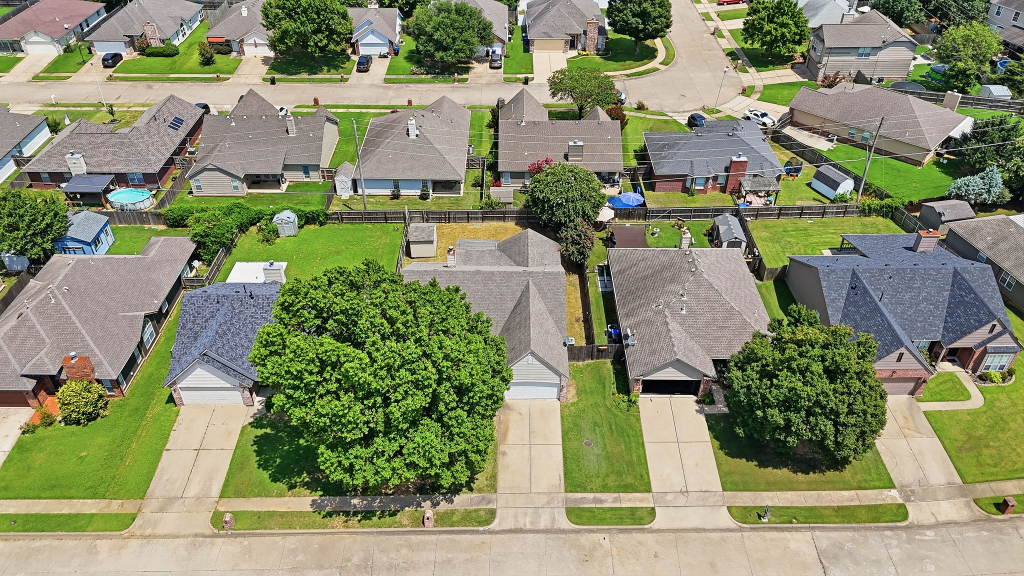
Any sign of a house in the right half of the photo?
Yes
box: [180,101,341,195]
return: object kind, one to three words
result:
house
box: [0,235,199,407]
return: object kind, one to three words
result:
house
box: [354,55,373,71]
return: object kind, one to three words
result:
car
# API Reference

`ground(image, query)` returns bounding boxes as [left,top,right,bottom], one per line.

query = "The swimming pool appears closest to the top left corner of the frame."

[104,184,159,212]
